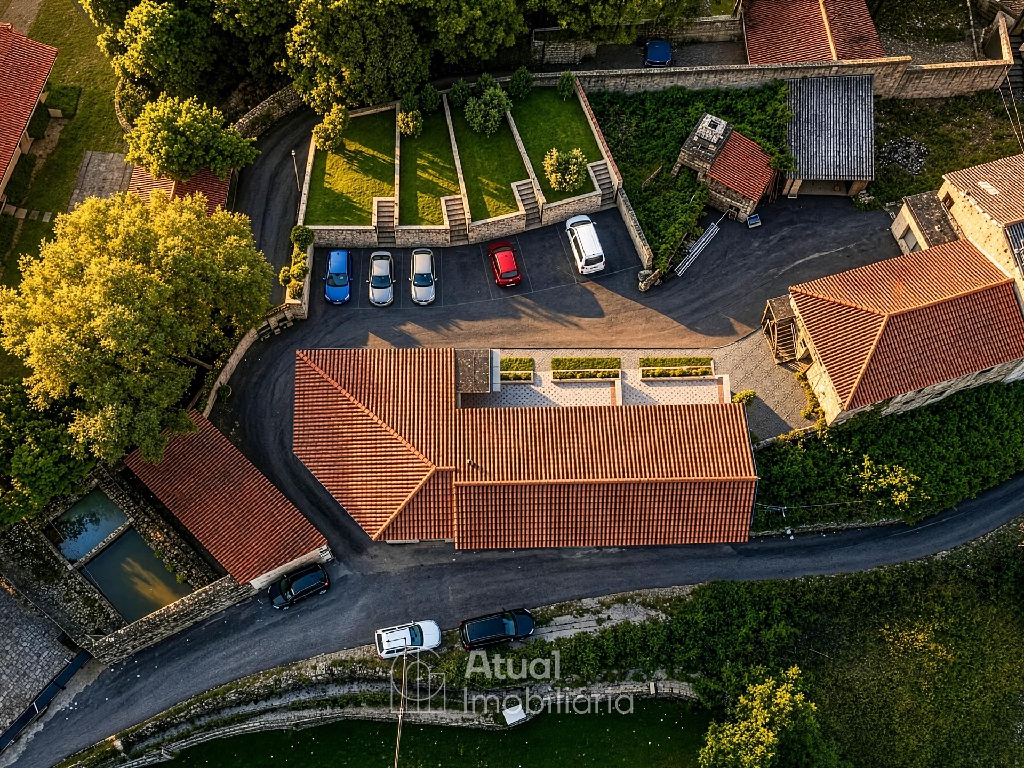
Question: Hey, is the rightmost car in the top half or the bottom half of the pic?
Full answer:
You can find the rightmost car in the top half.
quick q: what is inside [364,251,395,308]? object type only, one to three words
car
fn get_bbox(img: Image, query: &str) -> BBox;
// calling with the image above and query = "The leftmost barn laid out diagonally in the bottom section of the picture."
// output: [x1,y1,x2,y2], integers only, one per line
[123,409,337,595]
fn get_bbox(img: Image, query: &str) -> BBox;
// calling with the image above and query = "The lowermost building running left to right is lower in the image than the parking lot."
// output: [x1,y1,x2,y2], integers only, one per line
[290,347,760,550]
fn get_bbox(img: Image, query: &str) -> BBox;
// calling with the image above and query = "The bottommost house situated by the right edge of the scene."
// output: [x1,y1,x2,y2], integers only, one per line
[782,239,1024,425]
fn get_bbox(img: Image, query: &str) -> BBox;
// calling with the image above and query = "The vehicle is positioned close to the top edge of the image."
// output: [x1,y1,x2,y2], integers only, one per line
[644,36,674,67]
